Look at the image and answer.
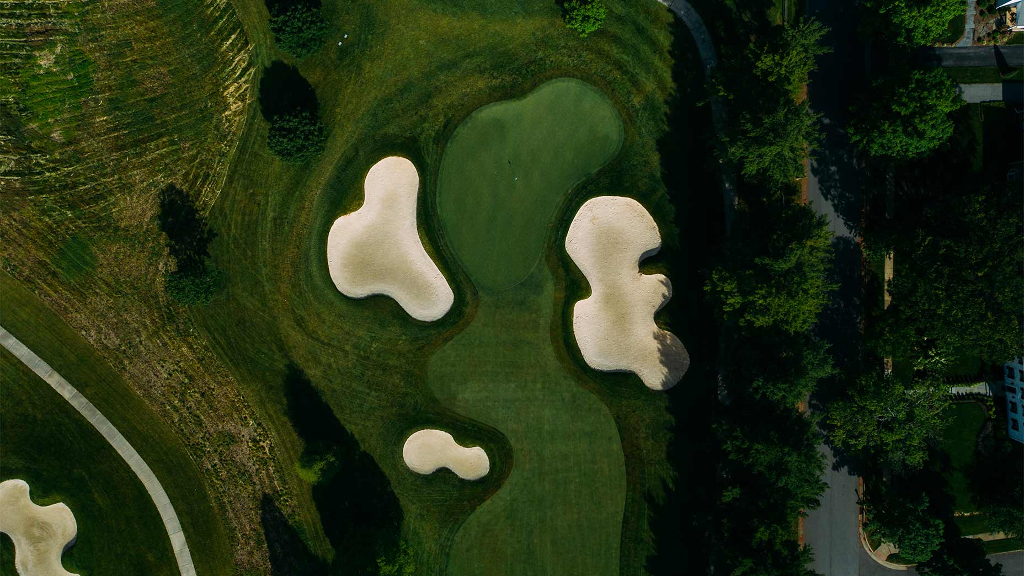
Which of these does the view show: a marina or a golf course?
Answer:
golf course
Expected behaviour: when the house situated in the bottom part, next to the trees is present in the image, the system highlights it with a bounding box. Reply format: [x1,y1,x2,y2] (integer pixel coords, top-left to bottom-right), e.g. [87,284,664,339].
[990,360,1024,443]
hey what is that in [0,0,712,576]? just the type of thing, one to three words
golf course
